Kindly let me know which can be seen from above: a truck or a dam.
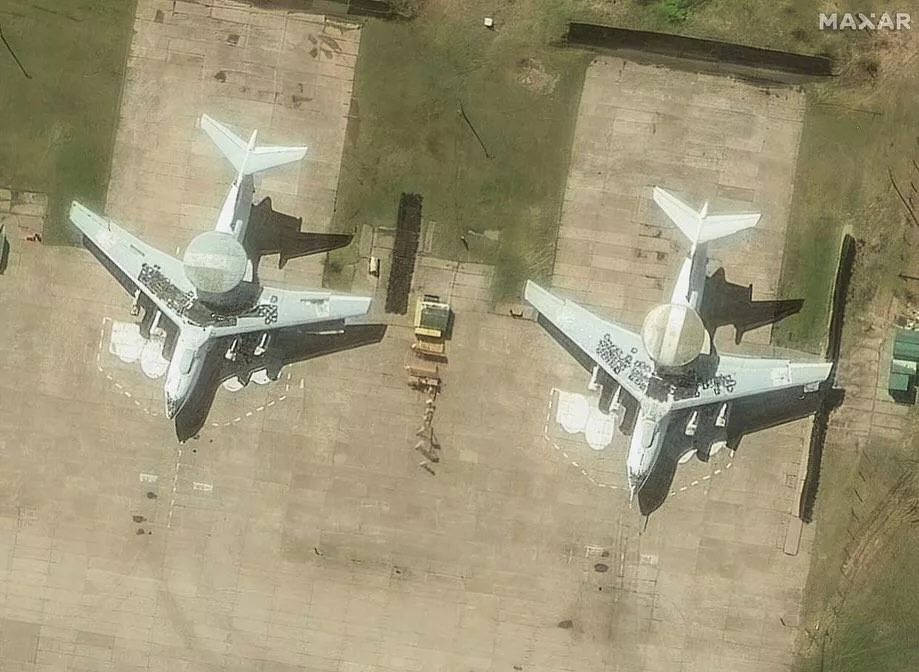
truck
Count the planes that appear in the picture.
2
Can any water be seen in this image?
No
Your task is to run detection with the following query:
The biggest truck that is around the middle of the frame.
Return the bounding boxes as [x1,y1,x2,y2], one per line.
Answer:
[412,290,452,341]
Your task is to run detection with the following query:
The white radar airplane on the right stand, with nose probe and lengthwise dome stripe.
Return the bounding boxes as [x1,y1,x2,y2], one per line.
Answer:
[521,188,829,506]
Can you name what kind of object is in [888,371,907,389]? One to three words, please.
shed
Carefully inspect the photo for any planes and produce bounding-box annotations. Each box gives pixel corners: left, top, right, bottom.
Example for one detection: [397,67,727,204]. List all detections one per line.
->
[521,188,829,506]
[70,116,372,416]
